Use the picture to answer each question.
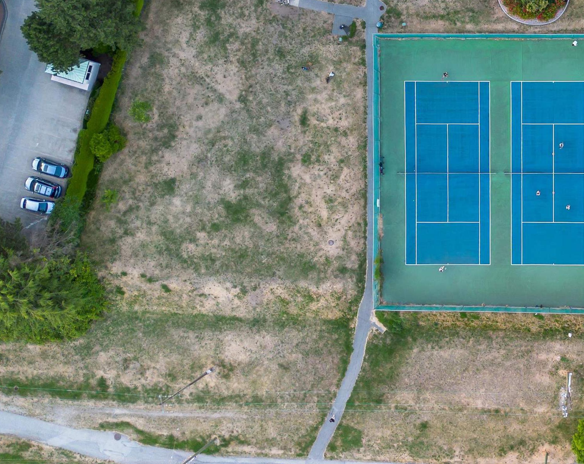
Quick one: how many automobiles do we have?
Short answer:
3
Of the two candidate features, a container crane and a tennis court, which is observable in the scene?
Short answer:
tennis court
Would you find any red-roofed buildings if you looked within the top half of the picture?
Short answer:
No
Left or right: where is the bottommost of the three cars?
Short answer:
left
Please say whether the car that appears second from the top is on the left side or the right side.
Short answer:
left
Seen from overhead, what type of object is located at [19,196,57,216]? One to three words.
car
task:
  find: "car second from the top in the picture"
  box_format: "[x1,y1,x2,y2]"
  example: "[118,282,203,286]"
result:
[25,176,66,198]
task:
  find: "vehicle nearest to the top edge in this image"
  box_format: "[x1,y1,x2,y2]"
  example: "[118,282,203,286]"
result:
[32,157,72,178]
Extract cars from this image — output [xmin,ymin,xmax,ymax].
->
[25,176,66,198]
[32,157,72,178]
[19,196,57,216]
